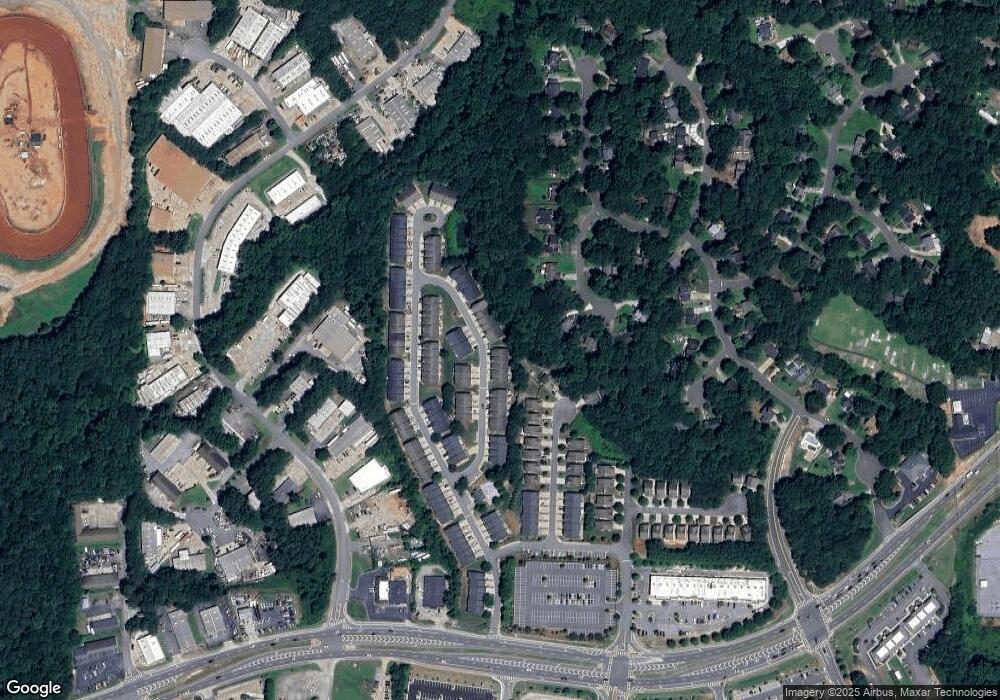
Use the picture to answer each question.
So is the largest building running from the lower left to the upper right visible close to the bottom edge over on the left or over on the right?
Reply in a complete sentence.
The largest building running from the lower left to the upper right visible close to the bottom edge appears in the right half of the scene.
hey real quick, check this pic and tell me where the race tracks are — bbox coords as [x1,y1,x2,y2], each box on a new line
[0,14,89,261]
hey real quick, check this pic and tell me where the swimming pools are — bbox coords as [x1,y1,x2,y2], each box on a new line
[481,482,500,505]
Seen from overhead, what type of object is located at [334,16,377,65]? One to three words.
building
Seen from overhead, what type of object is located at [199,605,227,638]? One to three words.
building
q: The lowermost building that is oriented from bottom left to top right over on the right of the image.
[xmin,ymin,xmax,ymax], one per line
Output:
[862,597,947,681]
